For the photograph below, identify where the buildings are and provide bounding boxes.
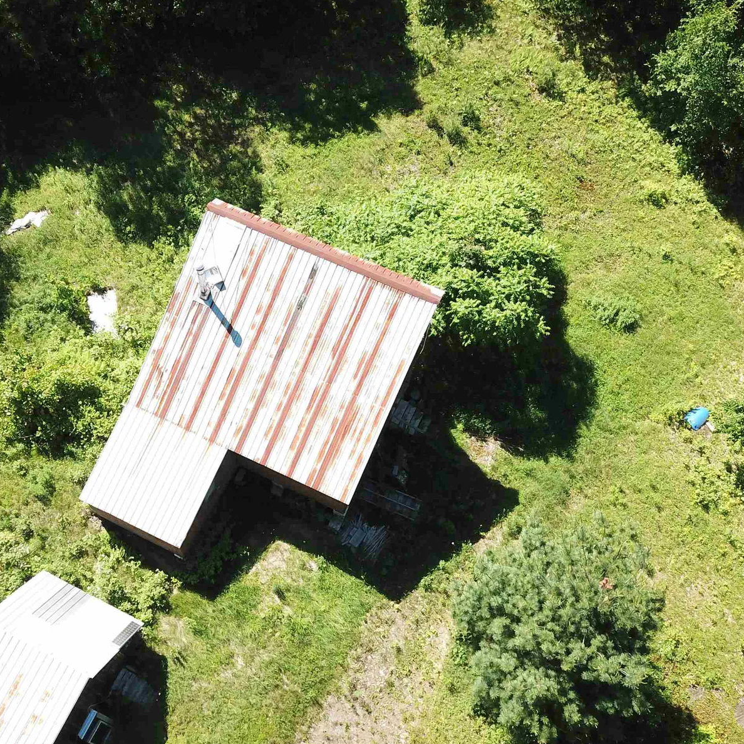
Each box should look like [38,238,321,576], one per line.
[0,570,146,744]
[87,197,445,559]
